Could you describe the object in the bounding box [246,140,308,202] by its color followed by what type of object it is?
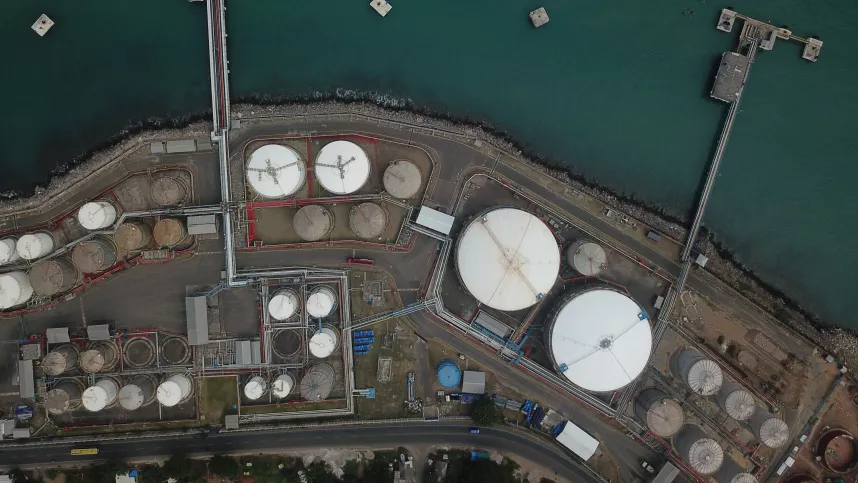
white storage tank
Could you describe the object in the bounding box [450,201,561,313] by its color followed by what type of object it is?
white storage tank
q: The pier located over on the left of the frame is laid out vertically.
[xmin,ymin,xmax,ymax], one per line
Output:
[207,0,231,140]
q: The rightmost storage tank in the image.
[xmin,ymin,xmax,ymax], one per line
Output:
[815,428,858,474]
